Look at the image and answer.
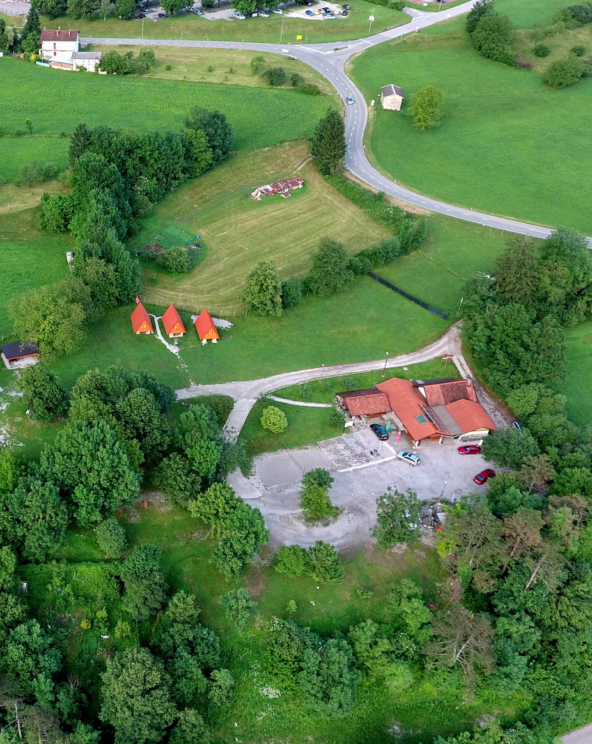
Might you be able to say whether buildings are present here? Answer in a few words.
Yes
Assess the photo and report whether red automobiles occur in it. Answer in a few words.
Yes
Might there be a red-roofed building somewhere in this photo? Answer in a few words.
Yes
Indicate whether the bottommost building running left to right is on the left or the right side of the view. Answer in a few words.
right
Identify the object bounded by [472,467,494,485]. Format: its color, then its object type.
red car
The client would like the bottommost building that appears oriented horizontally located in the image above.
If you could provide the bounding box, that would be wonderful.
[337,373,502,453]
